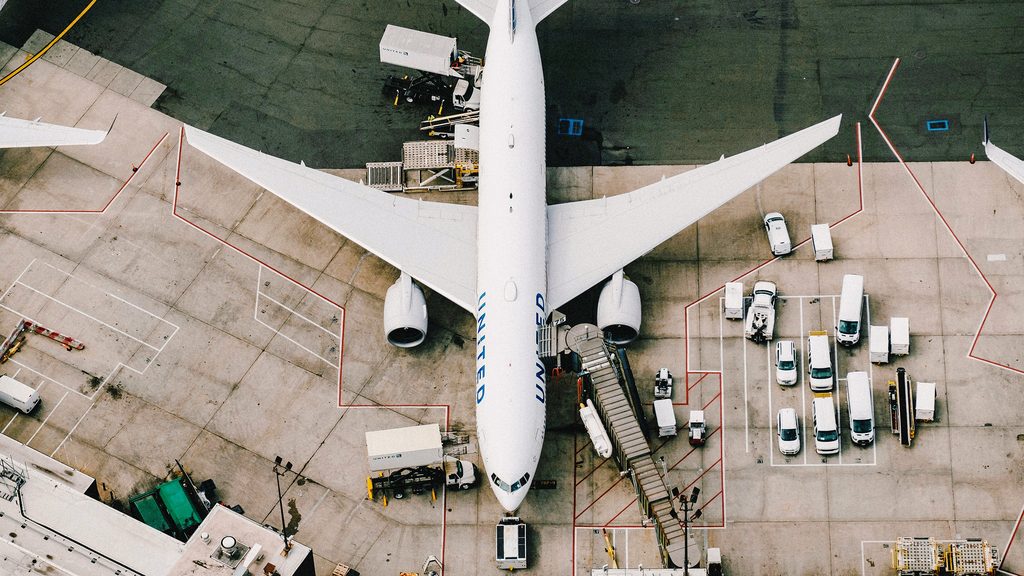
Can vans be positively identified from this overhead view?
Yes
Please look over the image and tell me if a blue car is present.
No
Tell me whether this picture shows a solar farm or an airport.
airport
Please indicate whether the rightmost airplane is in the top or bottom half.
top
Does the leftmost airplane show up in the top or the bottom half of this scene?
top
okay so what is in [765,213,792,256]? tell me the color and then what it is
white vehicle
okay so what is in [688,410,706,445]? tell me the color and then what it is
white work vehicle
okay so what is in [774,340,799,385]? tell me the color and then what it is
white car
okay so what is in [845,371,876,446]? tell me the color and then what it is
white van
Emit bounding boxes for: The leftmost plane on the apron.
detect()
[0,112,118,148]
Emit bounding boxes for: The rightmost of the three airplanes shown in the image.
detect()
[984,117,1024,185]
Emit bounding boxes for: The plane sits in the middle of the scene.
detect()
[184,0,841,513]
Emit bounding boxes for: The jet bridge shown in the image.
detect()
[539,310,700,574]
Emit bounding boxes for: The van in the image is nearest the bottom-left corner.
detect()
[0,372,40,415]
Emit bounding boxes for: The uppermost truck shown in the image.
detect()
[381,20,484,115]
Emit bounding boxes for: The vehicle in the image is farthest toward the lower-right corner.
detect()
[944,539,1003,576]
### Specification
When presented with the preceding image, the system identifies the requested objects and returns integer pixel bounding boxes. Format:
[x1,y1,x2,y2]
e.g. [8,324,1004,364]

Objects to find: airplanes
[984,117,1024,185]
[0,112,118,148]
[184,0,841,513]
